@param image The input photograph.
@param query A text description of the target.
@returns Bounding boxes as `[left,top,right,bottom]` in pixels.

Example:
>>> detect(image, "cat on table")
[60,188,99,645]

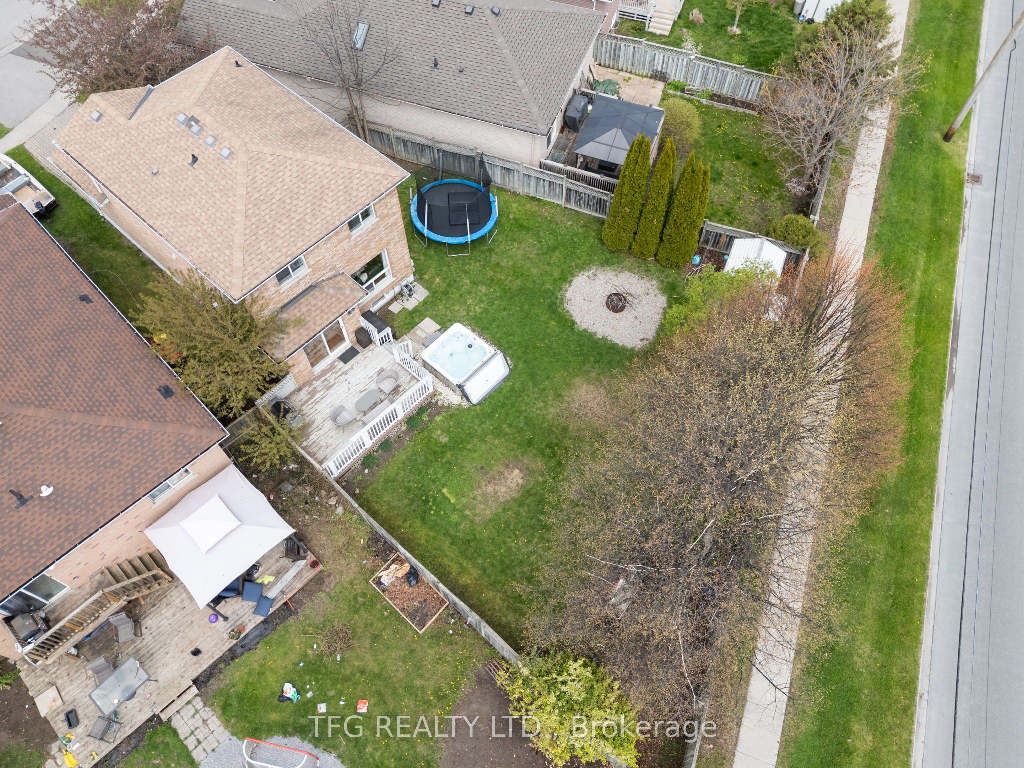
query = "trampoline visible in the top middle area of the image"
[407,155,497,257]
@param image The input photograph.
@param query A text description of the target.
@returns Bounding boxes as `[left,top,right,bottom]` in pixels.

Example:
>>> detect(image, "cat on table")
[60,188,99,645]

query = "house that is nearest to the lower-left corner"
[0,205,246,660]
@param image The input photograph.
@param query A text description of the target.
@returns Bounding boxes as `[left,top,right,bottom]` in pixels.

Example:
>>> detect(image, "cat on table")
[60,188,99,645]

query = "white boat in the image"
[0,164,61,222]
